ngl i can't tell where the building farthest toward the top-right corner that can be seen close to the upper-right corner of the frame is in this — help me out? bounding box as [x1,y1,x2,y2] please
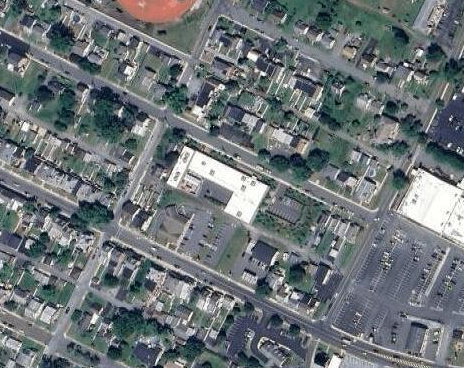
[412,0,445,34]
